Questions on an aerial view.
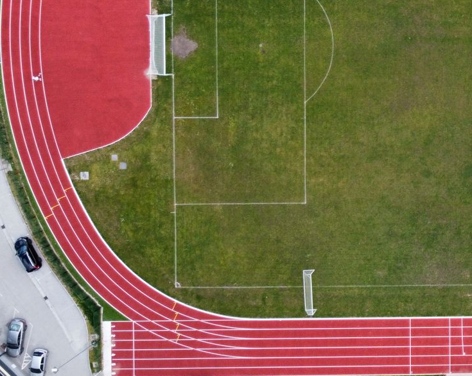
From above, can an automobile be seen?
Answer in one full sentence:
Yes, the photo shows an automobile.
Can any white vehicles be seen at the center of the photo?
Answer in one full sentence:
No, no white vehicle is visible at the center of the photo.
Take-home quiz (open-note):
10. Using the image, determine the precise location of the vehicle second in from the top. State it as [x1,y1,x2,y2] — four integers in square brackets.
[4,318,27,357]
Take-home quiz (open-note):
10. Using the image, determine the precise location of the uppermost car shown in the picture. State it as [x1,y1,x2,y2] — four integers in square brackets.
[14,236,40,273]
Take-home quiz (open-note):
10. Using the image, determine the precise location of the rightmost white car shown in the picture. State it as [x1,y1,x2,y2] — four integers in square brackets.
[27,348,48,376]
